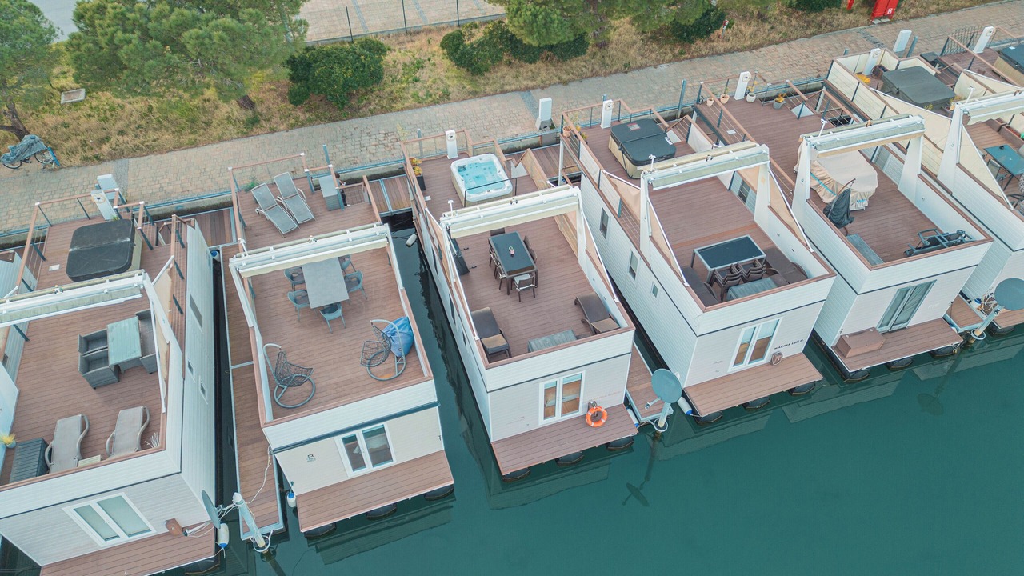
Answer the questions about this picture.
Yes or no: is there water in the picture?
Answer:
Yes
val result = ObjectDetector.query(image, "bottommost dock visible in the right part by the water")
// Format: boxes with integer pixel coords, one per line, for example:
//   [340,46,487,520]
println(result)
[626,344,674,426]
